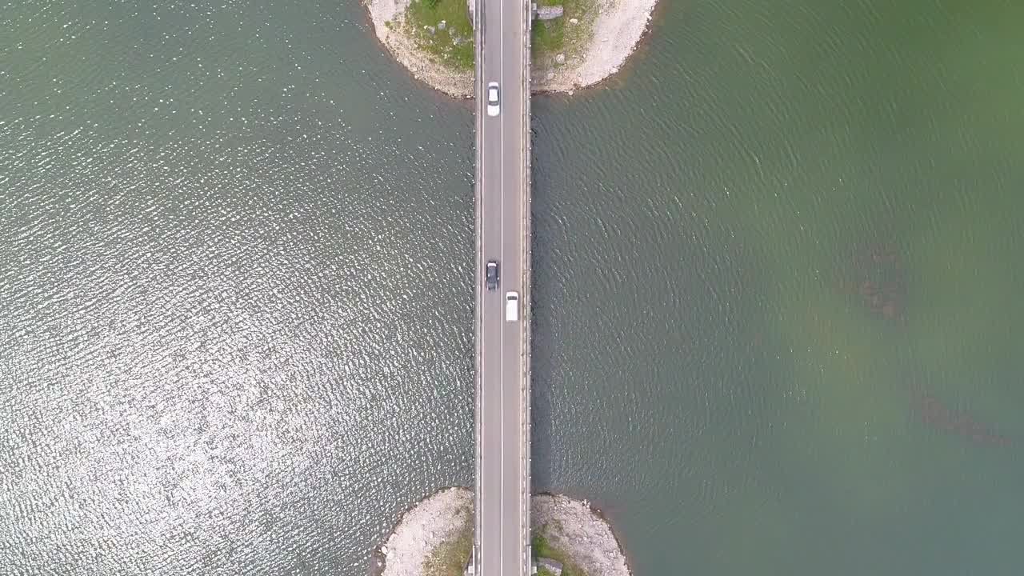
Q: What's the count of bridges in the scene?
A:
one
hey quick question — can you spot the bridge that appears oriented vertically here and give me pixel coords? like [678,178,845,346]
[473,25,532,548]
